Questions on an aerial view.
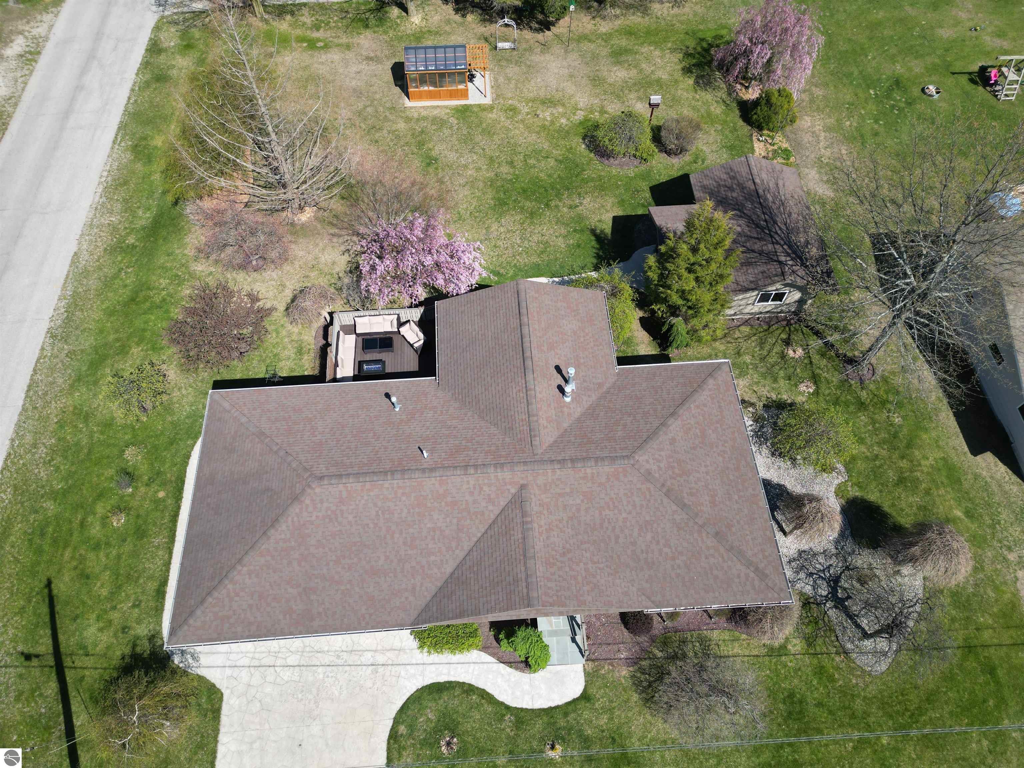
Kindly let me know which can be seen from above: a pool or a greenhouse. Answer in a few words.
greenhouse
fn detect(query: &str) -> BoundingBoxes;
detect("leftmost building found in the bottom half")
[160,276,799,651]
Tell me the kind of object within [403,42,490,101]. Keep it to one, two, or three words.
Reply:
greenhouse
